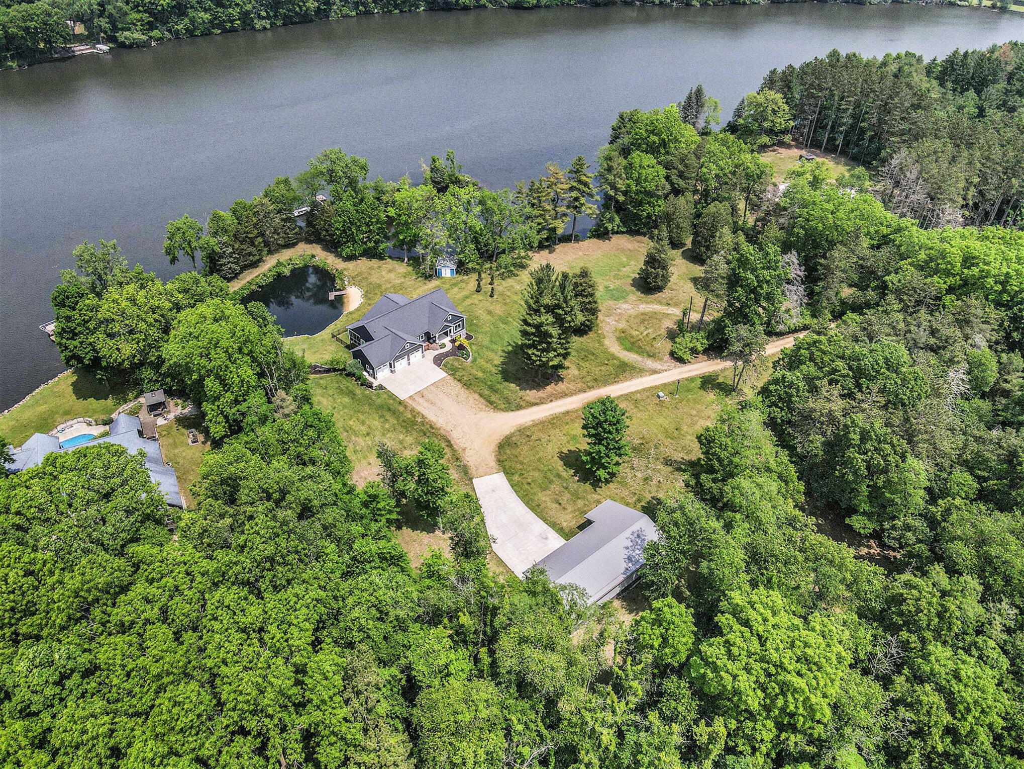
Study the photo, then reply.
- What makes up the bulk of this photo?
trees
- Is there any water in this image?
Yes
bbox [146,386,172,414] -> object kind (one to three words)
building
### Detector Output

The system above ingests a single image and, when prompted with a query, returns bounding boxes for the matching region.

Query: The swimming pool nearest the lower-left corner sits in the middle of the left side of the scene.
[60,433,96,446]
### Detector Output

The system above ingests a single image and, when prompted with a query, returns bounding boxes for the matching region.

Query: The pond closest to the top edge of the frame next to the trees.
[249,267,341,337]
